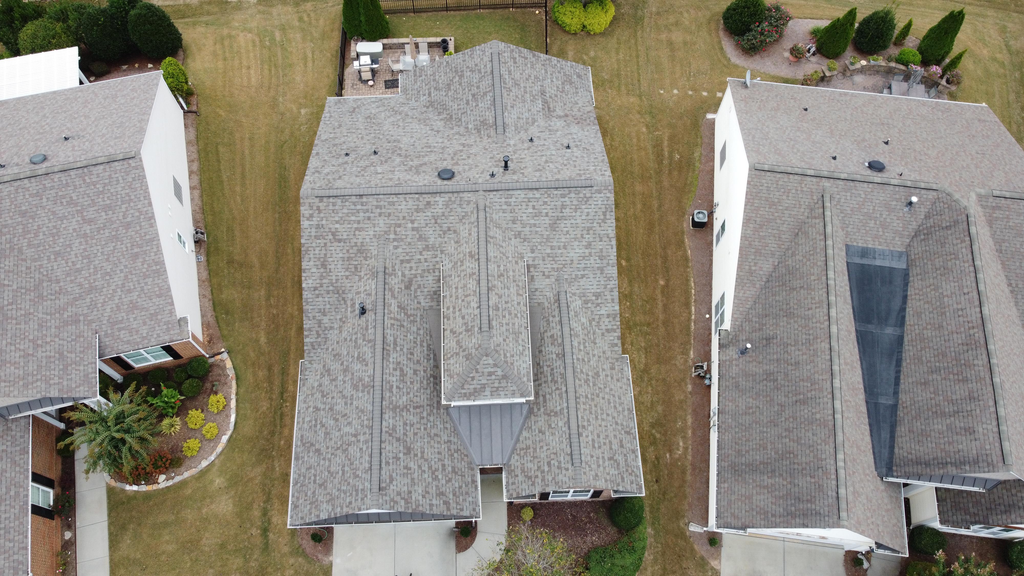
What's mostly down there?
buildings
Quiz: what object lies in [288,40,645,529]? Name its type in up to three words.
house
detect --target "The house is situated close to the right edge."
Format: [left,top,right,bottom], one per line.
[699,78,1024,557]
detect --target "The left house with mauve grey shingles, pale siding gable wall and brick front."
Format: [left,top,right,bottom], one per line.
[0,71,212,576]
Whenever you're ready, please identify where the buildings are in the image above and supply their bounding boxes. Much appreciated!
[0,71,212,576]
[699,78,1024,557]
[288,40,645,529]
